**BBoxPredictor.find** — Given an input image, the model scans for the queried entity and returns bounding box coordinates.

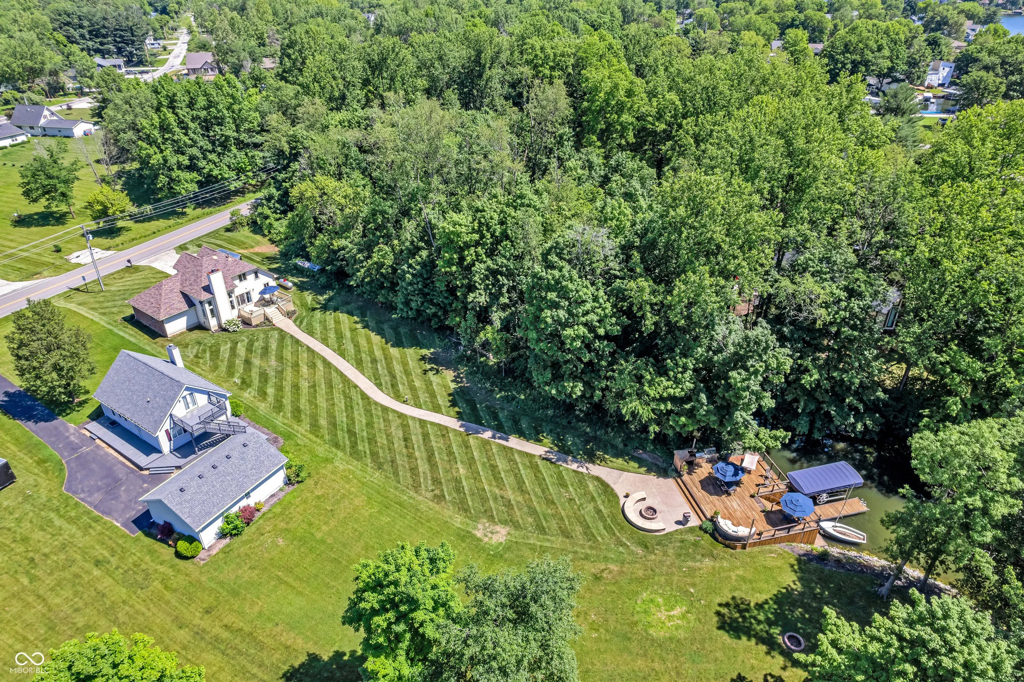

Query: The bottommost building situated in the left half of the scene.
[139,431,291,552]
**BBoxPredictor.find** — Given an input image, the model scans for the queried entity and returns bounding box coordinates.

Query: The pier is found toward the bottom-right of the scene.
[812,497,870,522]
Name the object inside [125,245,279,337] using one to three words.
house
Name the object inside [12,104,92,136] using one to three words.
house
